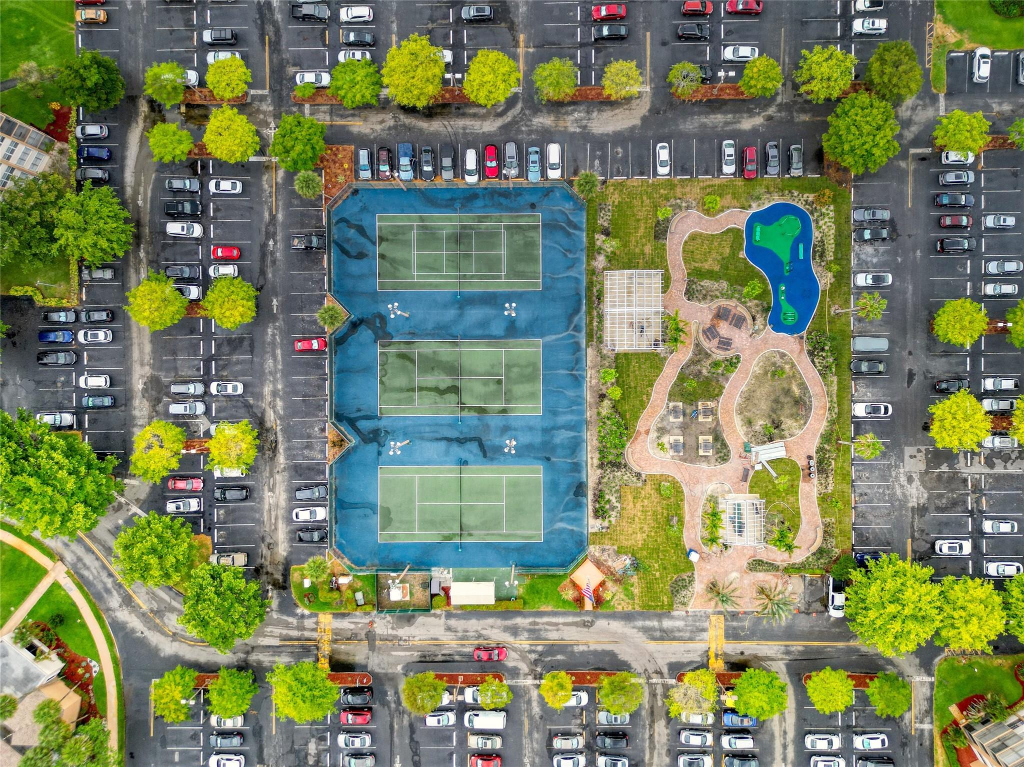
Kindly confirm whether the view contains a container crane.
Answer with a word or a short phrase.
No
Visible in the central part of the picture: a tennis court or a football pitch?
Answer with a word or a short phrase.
tennis court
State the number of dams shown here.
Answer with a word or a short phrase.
0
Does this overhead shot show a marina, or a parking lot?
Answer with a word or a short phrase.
parking lot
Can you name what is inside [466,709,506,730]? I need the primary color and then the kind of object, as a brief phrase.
white vehicle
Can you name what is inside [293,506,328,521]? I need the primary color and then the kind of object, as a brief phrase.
white car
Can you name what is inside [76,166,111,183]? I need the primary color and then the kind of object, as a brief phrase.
gray car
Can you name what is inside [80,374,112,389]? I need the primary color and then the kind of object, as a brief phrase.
white car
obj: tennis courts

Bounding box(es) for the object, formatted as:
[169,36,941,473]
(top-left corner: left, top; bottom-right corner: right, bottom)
[377,202,542,299]
[379,458,543,553]
[378,334,542,424]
